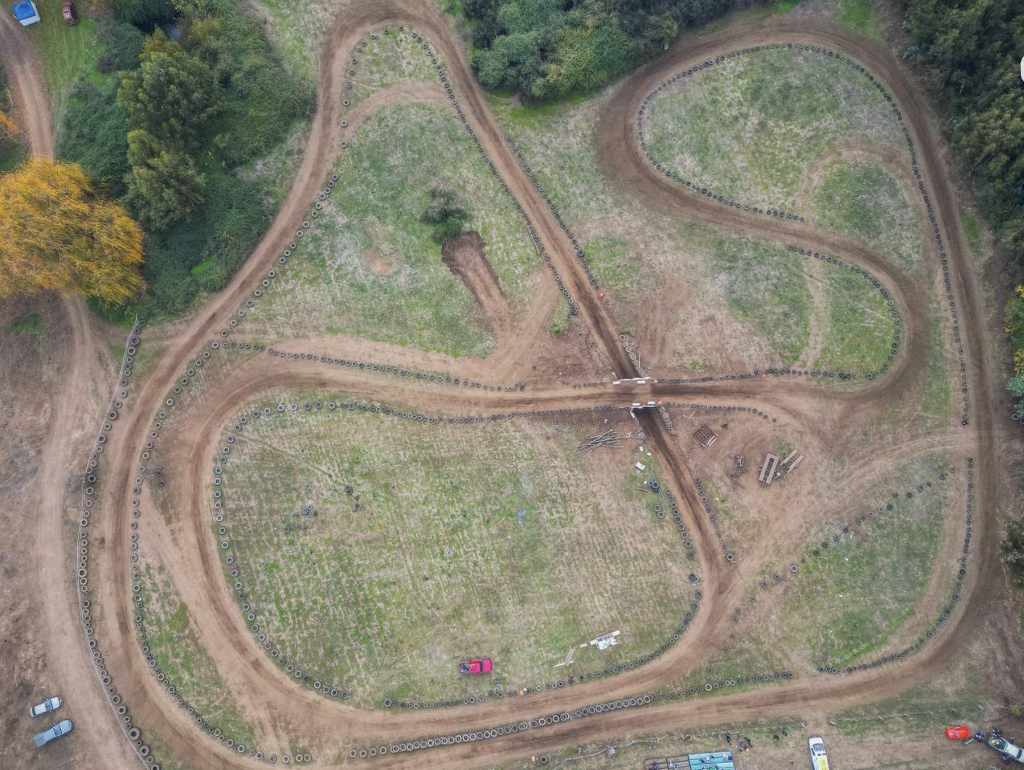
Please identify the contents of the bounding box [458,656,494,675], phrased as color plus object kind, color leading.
pink vehicle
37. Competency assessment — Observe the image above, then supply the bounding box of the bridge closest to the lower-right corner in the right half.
[612,377,667,407]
